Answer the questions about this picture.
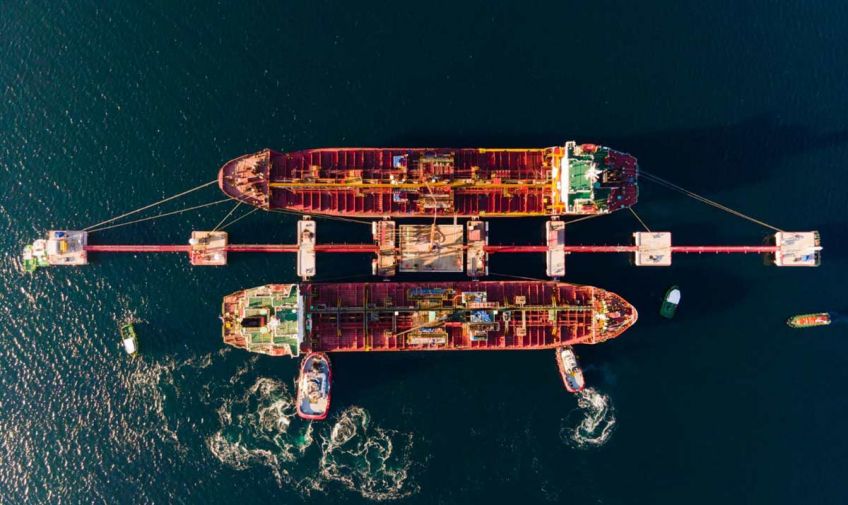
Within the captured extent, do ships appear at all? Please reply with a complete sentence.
Yes, the photo shows a ship.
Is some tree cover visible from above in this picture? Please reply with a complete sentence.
No, the picture contains no tree cover.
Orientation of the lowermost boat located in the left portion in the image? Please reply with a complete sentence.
I'd say the lowermost boat located in the left portion is aligned from top to bottom in the picture.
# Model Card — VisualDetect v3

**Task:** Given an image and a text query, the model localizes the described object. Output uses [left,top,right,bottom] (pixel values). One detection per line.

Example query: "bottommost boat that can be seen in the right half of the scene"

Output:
[557,346,585,394]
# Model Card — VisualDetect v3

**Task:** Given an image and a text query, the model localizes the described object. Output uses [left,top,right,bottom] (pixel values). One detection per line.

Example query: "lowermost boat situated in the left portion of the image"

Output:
[296,352,330,421]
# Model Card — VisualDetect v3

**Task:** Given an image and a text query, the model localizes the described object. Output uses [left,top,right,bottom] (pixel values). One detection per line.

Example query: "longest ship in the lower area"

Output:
[219,281,638,358]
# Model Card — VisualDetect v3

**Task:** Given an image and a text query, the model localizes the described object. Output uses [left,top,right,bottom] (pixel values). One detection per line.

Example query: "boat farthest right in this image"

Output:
[787,311,831,329]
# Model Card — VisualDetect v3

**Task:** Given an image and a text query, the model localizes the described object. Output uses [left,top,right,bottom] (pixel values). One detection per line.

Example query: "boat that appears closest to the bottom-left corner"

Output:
[120,325,137,356]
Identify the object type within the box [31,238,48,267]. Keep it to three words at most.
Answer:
boat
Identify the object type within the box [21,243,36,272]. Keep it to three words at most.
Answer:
boat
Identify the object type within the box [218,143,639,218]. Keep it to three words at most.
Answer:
ship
